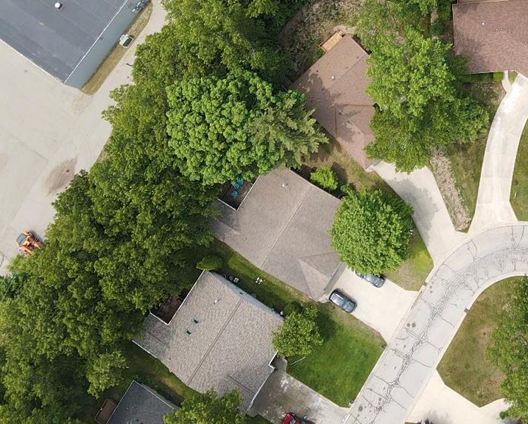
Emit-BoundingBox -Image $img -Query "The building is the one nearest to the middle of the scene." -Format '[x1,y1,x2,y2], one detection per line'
[204,158,353,301]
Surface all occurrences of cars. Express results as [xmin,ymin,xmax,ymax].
[326,289,357,313]
[354,270,385,287]
[281,414,304,424]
